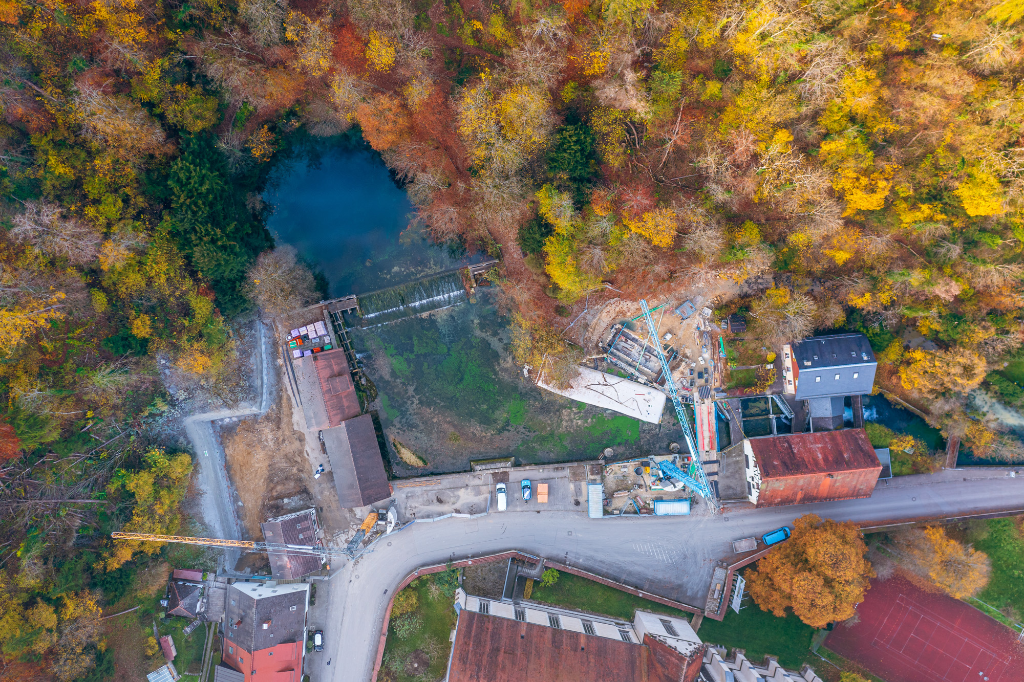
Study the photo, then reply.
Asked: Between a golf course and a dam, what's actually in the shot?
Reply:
dam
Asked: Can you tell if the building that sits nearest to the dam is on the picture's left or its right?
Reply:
left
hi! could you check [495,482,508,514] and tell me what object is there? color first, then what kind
white vehicle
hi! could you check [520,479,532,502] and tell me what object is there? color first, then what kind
blue vehicle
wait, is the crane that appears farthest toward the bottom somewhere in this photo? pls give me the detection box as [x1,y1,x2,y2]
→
[111,487,399,569]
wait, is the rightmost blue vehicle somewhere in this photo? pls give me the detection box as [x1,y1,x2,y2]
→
[761,528,791,547]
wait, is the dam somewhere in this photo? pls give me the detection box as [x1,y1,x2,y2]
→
[355,266,469,332]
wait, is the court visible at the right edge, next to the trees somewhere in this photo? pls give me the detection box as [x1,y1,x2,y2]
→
[824,569,1024,682]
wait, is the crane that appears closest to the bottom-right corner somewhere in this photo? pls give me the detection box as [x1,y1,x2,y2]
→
[638,300,716,534]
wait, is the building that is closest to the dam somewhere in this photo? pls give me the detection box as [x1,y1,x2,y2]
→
[293,347,363,430]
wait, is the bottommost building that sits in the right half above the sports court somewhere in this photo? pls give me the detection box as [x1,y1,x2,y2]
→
[744,428,883,508]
